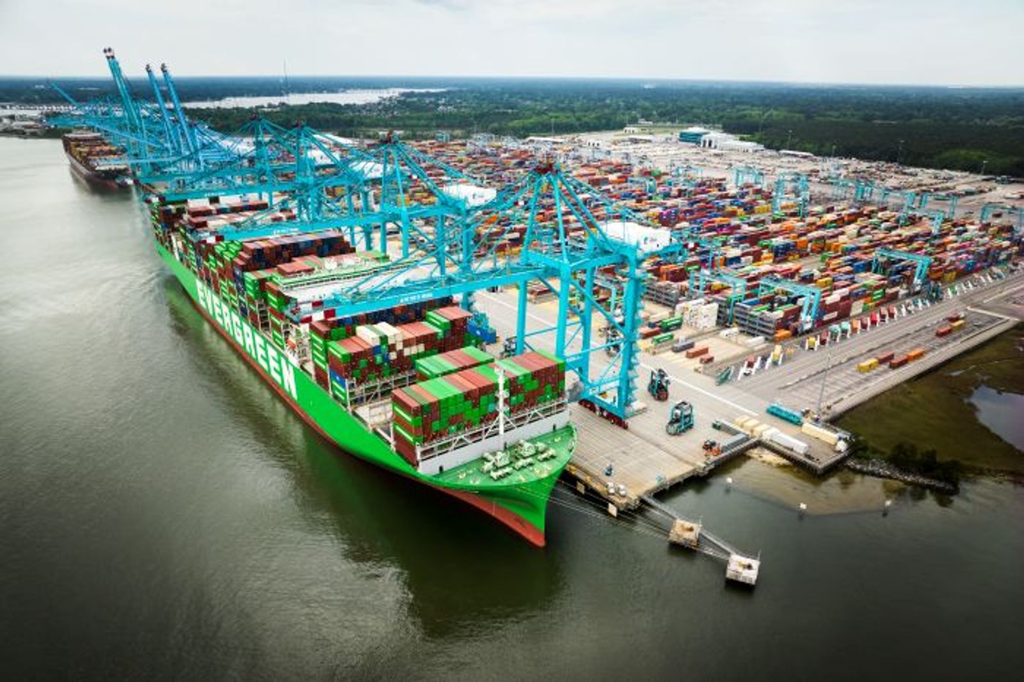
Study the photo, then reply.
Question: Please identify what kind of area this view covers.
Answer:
port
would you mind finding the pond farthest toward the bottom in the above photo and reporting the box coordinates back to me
[966,384,1024,451]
